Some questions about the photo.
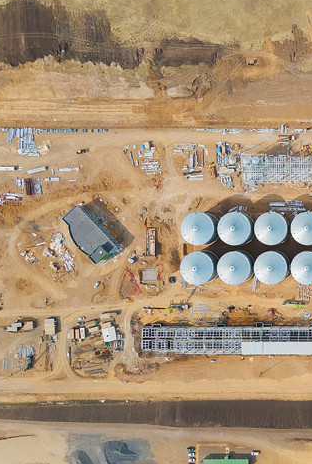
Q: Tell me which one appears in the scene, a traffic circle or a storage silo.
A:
storage silo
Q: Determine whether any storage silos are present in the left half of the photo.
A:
No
